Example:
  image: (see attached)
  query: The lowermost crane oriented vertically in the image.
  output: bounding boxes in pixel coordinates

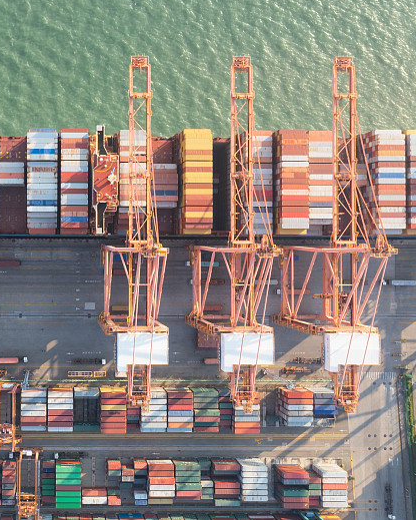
[16,448,45,520]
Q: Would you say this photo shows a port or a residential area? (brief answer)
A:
port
